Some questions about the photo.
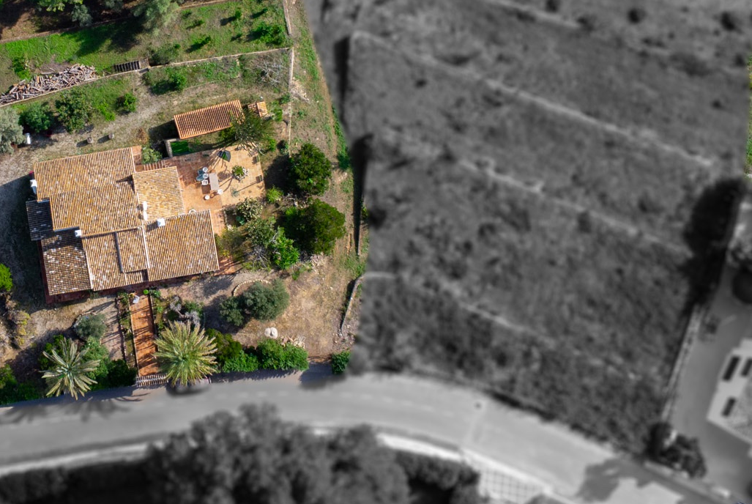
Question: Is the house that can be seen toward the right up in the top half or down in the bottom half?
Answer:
bottom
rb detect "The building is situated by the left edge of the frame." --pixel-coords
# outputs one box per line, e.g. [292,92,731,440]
[25,147,220,295]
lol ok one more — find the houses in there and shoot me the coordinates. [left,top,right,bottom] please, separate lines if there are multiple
[689,324,752,441]
[25,147,220,295]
